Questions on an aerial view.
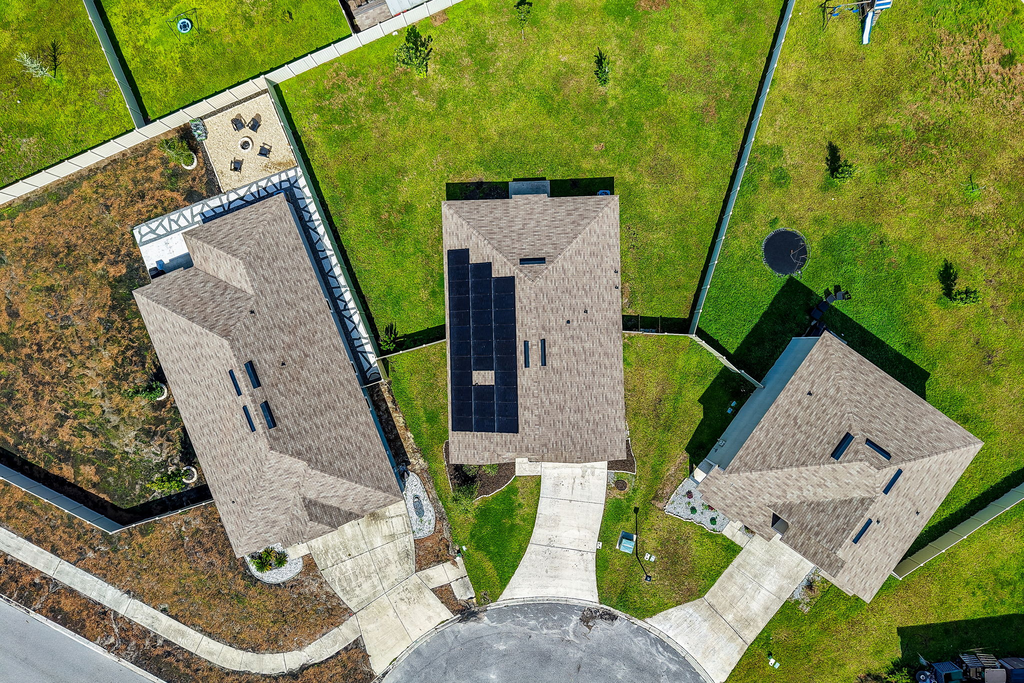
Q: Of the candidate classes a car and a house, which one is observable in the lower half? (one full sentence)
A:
The feature located in the lower half is a house.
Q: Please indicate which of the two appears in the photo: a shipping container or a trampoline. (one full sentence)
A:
The one in the frame is a trampoline.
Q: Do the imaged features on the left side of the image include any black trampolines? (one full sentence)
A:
No, no black trampoline appears on the left side of the image.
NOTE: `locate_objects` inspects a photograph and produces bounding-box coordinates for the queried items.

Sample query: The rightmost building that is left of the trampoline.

[440,194,626,465]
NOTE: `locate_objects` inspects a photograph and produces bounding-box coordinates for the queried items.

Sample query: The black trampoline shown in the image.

[762,229,809,276]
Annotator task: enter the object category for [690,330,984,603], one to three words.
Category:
house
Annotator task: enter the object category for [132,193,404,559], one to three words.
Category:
house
